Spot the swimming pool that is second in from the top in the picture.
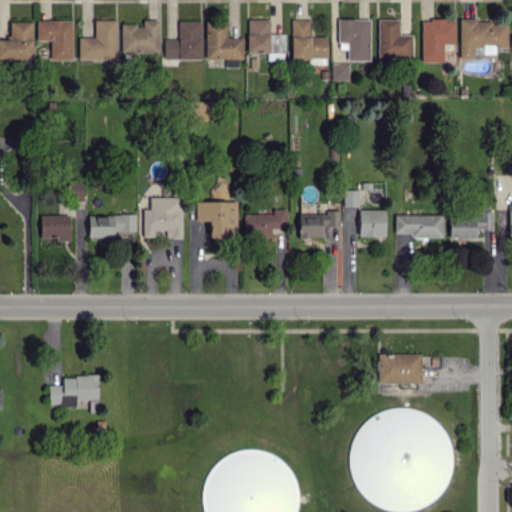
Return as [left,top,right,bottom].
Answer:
[151,162,168,180]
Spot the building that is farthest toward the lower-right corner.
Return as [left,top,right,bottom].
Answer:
[379,354,423,384]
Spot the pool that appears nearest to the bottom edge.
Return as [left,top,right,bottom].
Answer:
[302,186,320,204]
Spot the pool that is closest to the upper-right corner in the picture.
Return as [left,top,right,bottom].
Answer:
[464,60,495,74]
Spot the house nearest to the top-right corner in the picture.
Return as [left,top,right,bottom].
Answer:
[461,20,512,59]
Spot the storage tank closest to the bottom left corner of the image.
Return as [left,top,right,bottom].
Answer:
[203,450,302,512]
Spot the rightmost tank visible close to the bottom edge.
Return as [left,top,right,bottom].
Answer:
[350,408,455,512]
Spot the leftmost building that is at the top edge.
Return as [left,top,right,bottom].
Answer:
[0,22,35,61]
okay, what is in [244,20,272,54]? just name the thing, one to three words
house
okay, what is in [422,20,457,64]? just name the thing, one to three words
house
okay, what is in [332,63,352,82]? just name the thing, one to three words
building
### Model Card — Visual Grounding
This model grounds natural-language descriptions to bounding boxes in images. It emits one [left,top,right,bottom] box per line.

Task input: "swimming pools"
[151,162,168,180]
[302,186,320,204]
[464,60,495,74]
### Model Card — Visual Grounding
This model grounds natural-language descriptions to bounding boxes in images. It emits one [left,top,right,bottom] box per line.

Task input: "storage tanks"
[350,408,455,512]
[203,450,302,512]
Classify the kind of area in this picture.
residential area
